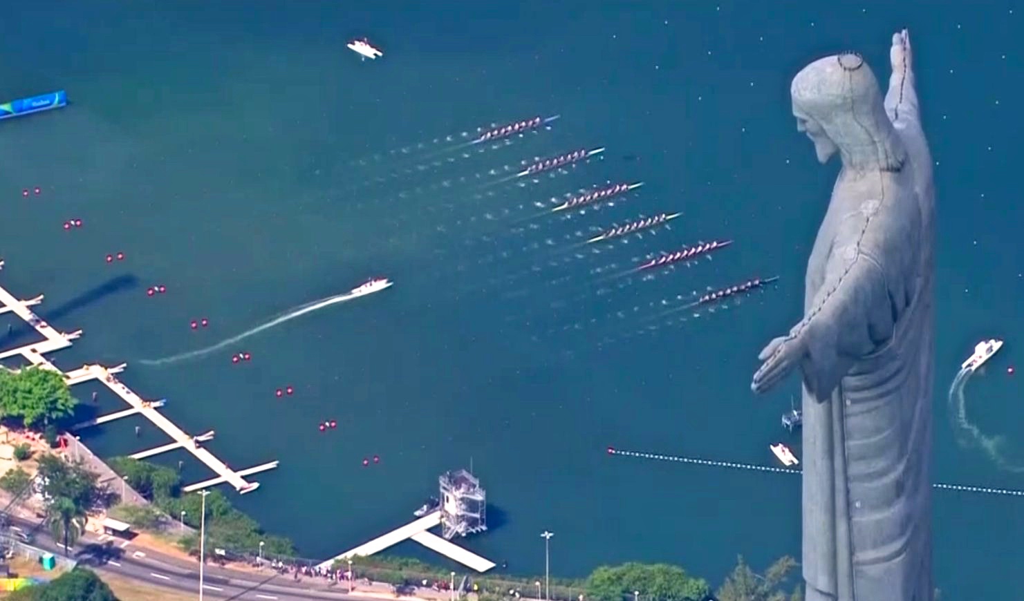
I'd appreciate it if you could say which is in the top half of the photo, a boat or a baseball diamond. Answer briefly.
boat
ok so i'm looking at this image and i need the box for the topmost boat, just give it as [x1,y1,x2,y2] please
[344,38,385,60]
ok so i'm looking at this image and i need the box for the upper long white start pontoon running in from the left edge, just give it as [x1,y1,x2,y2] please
[0,281,66,340]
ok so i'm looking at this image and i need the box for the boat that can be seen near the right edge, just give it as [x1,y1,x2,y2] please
[957,335,1006,372]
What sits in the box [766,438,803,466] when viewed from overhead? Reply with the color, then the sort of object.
white boat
